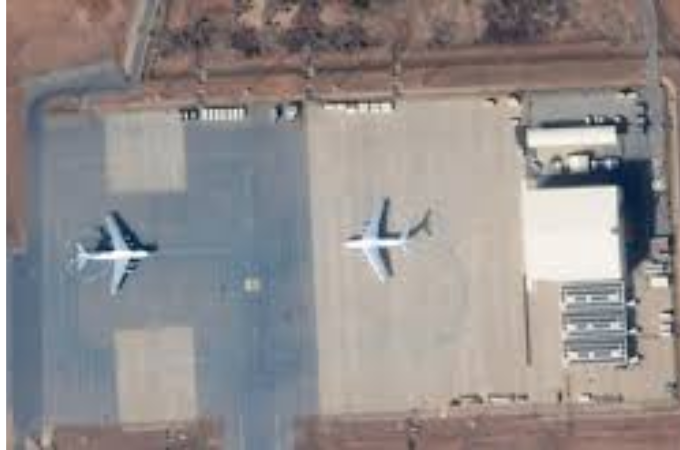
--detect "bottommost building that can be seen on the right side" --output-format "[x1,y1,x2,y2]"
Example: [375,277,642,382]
[562,336,640,364]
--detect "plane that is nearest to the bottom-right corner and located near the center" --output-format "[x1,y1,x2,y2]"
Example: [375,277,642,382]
[340,203,408,282]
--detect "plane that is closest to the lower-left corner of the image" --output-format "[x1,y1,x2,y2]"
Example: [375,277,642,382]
[75,215,149,295]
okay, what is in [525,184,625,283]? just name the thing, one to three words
hangar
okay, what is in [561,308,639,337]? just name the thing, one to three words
building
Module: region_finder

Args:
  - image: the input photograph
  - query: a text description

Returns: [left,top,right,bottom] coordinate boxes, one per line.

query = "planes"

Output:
[75,215,149,295]
[340,203,408,282]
